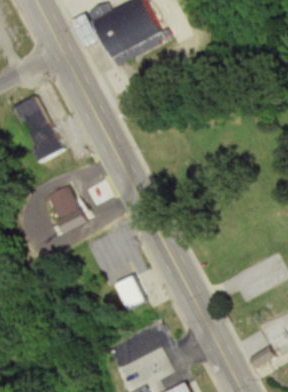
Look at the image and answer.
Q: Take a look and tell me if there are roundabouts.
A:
No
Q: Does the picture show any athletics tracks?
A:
No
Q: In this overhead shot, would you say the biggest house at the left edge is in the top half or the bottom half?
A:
top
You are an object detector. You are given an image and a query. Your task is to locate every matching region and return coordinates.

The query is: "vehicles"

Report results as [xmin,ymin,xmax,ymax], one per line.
[126,372,140,381]
[96,187,102,198]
